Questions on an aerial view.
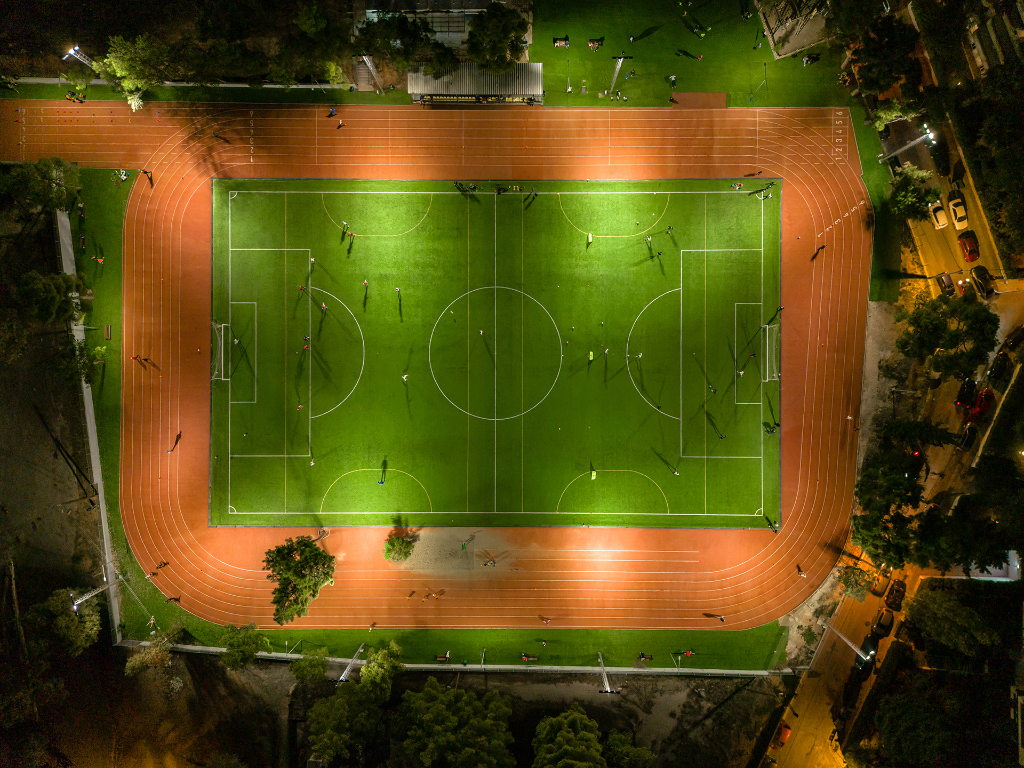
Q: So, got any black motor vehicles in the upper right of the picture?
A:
Yes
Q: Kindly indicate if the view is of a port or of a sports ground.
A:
sports ground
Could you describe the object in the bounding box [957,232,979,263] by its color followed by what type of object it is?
red car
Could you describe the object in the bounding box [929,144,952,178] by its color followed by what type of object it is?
black car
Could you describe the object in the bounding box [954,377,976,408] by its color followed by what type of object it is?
black car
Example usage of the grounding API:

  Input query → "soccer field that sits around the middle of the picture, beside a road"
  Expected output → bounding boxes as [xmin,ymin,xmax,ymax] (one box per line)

[210,178,783,530]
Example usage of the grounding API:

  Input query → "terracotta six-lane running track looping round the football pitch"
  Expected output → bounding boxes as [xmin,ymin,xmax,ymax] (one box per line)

[0,92,875,631]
